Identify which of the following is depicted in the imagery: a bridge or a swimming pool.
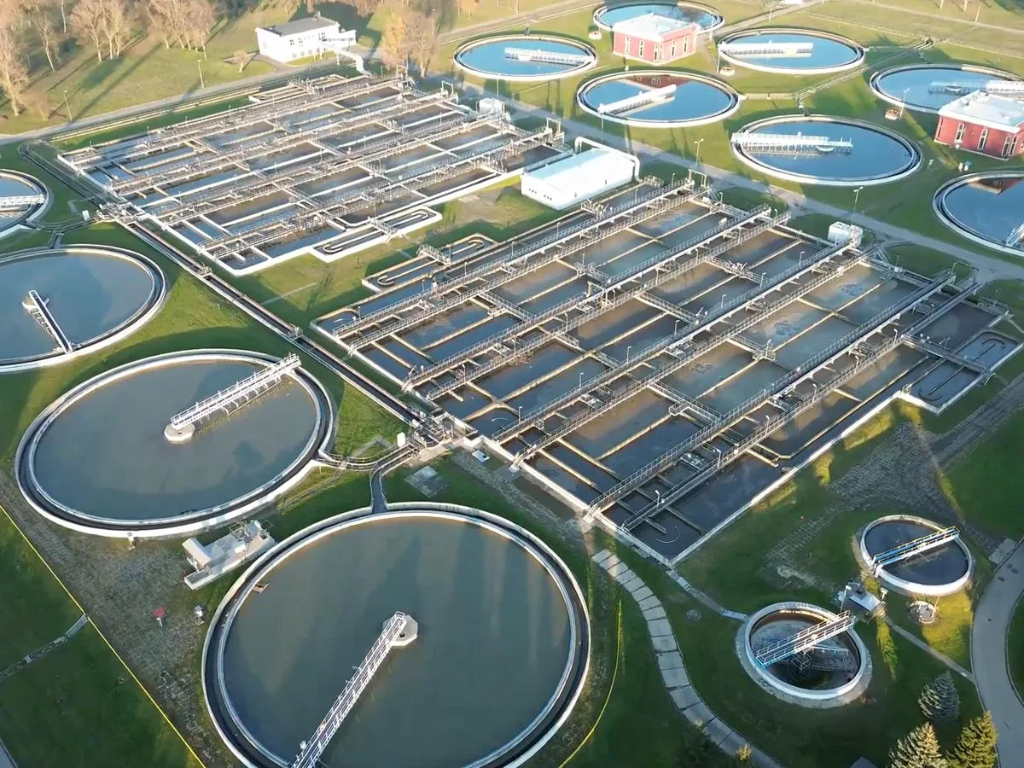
bridge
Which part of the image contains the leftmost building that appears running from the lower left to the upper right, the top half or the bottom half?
bottom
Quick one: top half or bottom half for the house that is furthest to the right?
top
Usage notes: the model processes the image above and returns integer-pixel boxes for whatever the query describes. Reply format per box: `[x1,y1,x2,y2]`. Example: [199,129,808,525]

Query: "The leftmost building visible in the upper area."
[256,12,337,62]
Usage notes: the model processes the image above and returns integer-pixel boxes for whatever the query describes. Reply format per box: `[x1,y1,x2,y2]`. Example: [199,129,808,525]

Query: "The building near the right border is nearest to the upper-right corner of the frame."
[934,88,1024,161]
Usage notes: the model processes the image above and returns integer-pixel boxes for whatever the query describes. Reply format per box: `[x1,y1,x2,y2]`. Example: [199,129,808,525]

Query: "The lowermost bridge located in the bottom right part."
[750,607,861,676]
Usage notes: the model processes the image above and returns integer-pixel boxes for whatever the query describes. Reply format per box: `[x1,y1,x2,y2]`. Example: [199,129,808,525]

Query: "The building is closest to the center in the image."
[519,146,636,211]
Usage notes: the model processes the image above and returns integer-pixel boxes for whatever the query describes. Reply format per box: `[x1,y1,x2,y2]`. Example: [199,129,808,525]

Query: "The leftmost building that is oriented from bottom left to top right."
[177,508,283,592]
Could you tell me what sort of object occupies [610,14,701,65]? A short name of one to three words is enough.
house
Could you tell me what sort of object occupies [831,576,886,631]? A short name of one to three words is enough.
building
